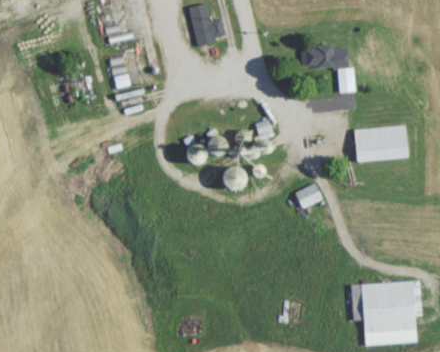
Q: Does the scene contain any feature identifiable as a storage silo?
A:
Yes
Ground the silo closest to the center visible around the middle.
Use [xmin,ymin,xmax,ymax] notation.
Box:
[222,165,248,192]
